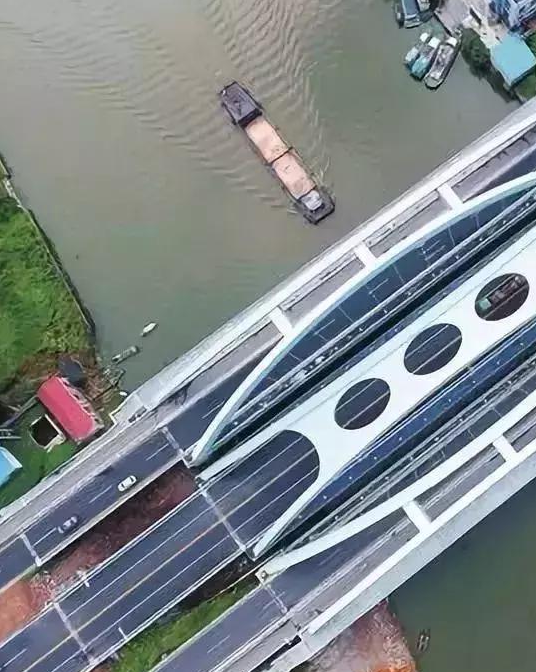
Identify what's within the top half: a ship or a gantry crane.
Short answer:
ship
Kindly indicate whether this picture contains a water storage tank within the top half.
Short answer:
No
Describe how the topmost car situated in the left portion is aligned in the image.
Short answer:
diagonally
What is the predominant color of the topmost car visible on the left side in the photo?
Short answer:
white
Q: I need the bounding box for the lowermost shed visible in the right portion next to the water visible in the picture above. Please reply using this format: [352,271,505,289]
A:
[491,32,536,93]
